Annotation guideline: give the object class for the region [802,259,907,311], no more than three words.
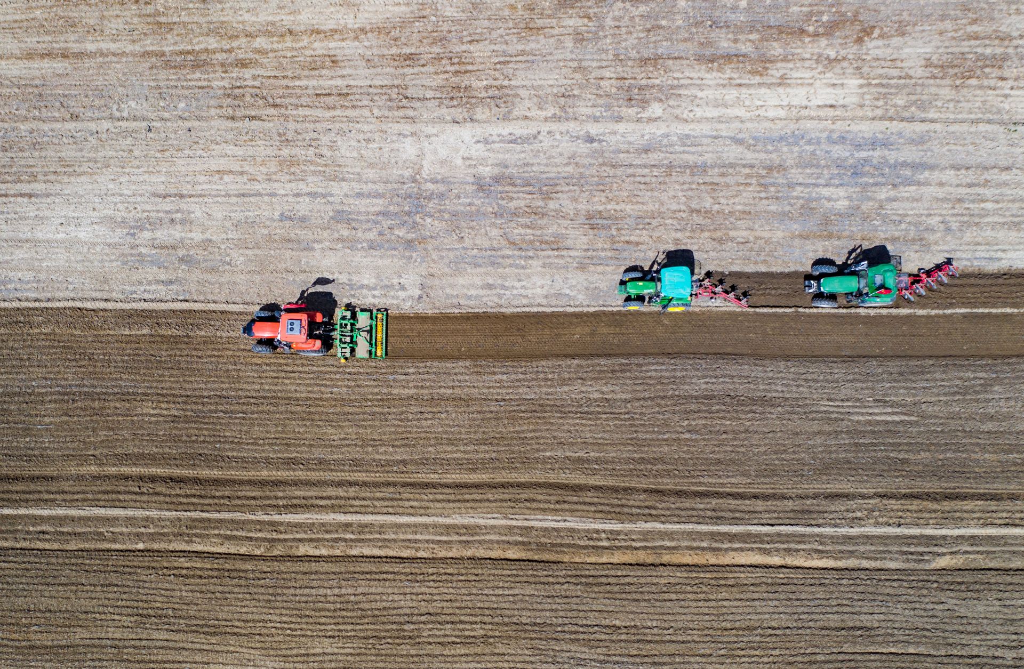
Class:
work vehicle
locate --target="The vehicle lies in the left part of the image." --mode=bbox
[240,307,337,356]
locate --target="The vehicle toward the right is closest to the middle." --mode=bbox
[614,263,699,313]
